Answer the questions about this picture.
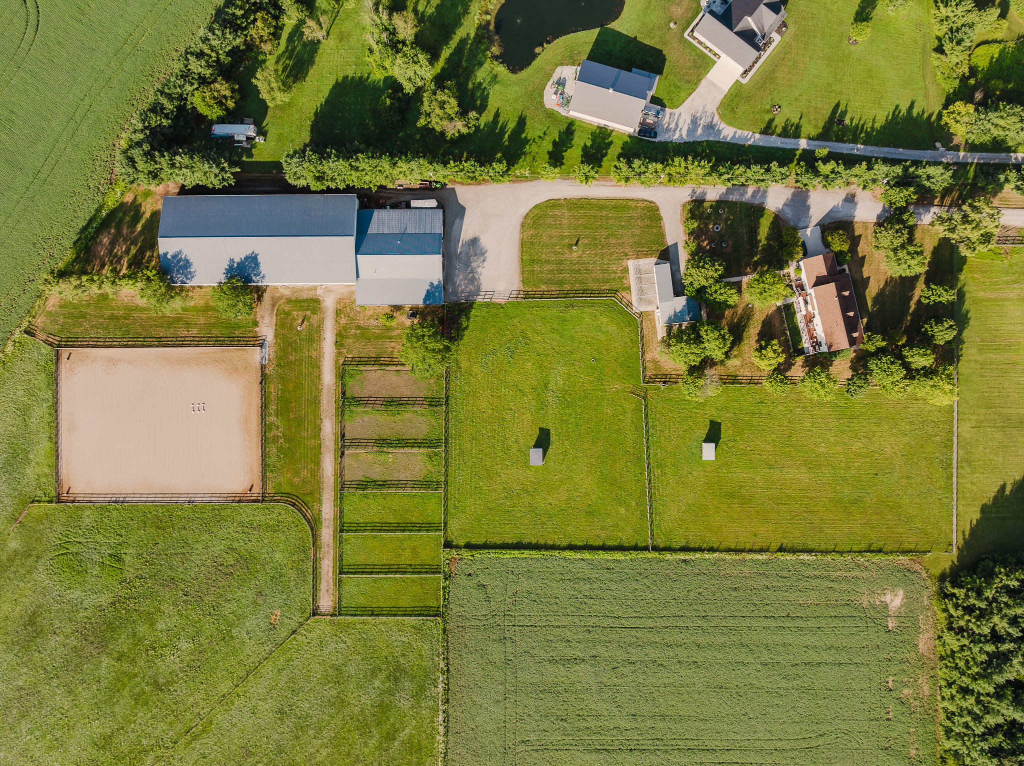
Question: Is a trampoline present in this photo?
No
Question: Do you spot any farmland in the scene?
Yes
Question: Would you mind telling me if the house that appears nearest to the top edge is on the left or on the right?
right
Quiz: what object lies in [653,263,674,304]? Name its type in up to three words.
building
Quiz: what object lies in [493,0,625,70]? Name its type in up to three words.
pond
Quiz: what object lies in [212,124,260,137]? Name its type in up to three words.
vehicle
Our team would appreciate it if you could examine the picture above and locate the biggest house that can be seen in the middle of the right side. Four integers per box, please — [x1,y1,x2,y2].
[797,253,864,352]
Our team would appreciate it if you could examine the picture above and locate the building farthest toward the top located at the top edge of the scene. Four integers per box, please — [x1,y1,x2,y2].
[693,0,787,71]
